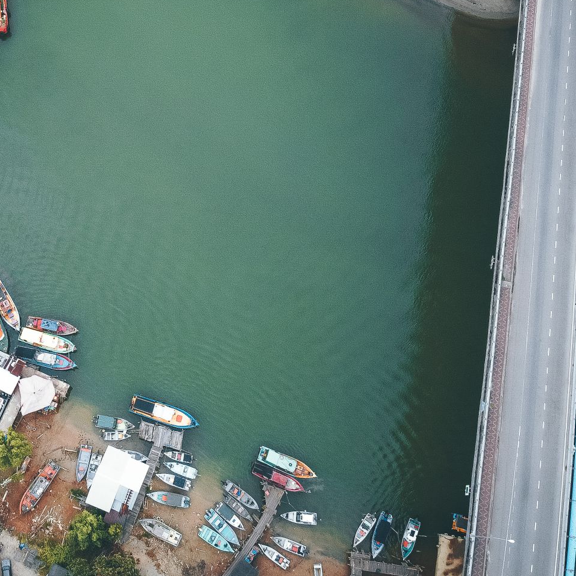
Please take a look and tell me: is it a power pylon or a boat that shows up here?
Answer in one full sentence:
Of the two, only a boat appears.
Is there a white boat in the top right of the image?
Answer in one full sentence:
No, I see no white boat in the top right of the image.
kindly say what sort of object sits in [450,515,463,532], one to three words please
boat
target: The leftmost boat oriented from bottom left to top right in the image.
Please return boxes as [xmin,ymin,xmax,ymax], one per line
[18,460,59,515]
